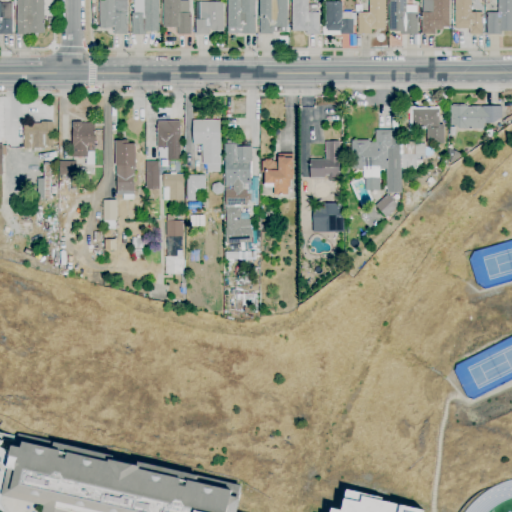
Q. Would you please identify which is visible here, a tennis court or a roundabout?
tennis court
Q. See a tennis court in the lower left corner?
No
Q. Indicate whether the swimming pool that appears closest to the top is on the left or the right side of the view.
right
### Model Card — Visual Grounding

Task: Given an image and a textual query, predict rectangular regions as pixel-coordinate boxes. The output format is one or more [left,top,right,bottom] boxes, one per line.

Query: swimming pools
[308,235,333,256]
[352,178,372,203]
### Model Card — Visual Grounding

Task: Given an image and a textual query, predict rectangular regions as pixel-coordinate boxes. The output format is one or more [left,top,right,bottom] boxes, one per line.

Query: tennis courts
[454,334,512,399]
[470,240,512,288]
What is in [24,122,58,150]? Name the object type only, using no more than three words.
building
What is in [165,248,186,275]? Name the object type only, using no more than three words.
shed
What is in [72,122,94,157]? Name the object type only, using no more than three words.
house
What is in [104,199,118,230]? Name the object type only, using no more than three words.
barn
